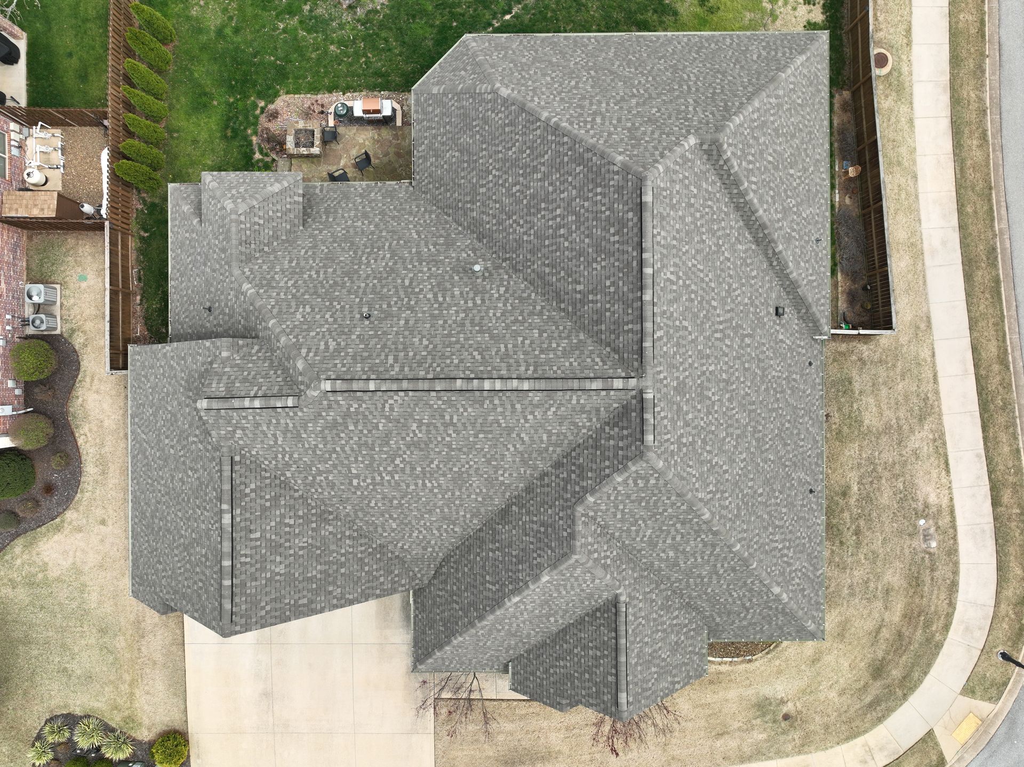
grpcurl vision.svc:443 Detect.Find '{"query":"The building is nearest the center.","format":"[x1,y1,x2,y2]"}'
[128,31,830,720]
